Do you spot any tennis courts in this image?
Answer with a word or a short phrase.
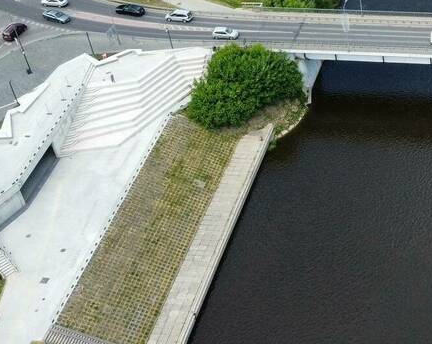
No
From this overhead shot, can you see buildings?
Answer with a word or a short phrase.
No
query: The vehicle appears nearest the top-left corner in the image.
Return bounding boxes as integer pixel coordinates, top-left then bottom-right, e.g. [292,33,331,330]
[0,25,27,41]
